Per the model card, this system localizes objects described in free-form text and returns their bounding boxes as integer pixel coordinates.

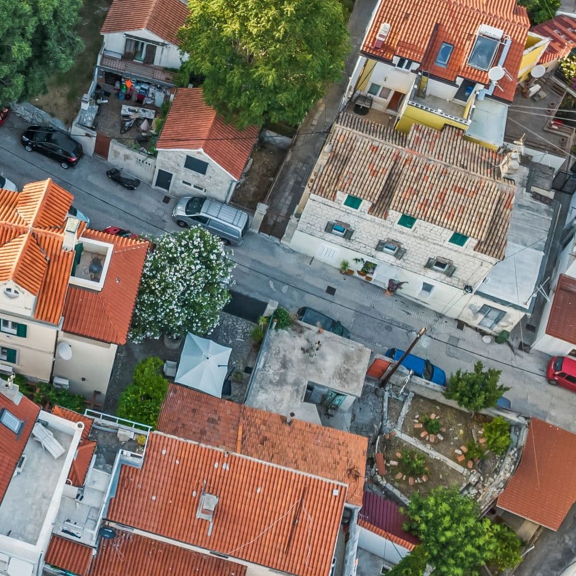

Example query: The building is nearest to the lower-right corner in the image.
[491,418,576,550]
